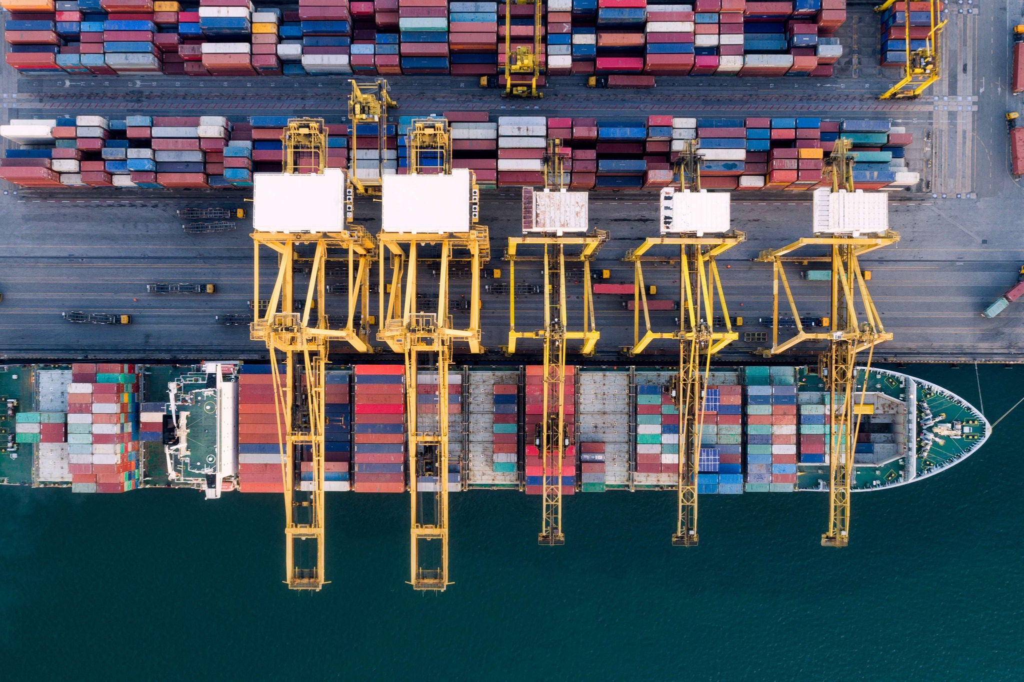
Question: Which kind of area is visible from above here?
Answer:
port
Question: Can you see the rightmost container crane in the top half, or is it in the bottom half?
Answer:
top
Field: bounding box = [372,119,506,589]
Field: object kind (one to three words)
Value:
container crane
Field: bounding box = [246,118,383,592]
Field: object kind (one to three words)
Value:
container crane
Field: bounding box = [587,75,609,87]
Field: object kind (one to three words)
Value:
vehicle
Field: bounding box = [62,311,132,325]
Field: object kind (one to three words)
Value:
vehicle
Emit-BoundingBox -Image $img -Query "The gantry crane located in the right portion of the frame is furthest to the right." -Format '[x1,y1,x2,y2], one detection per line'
[871,0,944,98]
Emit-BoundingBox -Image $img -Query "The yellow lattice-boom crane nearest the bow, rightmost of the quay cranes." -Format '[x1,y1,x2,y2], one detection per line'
[754,136,901,546]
